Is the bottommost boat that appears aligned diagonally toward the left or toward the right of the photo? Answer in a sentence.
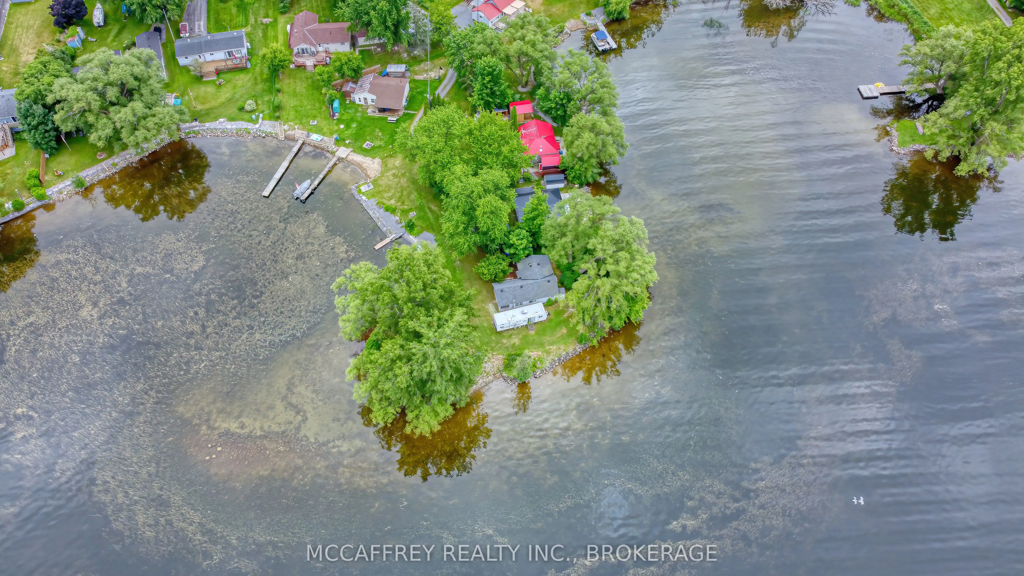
The bottommost boat that appears aligned diagonally sits on the left side.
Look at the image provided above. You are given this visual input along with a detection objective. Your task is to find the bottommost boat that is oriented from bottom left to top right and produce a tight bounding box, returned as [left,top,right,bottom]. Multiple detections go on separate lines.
[289,177,309,199]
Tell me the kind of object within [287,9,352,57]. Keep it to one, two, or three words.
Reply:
house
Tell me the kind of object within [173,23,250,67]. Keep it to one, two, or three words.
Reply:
house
